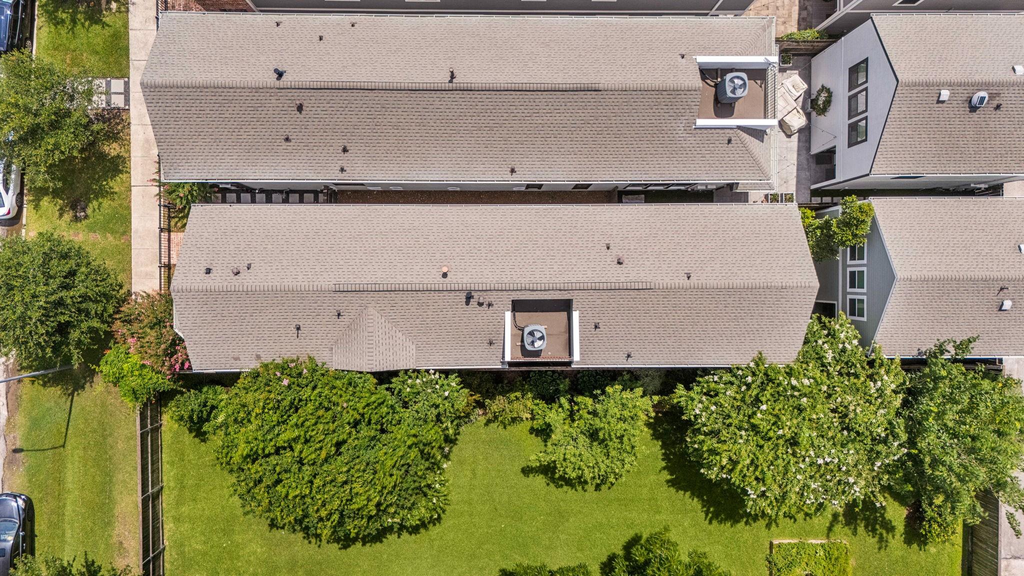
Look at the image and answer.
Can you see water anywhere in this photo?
No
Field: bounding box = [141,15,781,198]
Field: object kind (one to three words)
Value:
house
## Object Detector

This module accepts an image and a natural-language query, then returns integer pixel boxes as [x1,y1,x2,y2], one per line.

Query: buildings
[141,15,781,198]
[170,202,819,372]
[809,14,1024,192]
